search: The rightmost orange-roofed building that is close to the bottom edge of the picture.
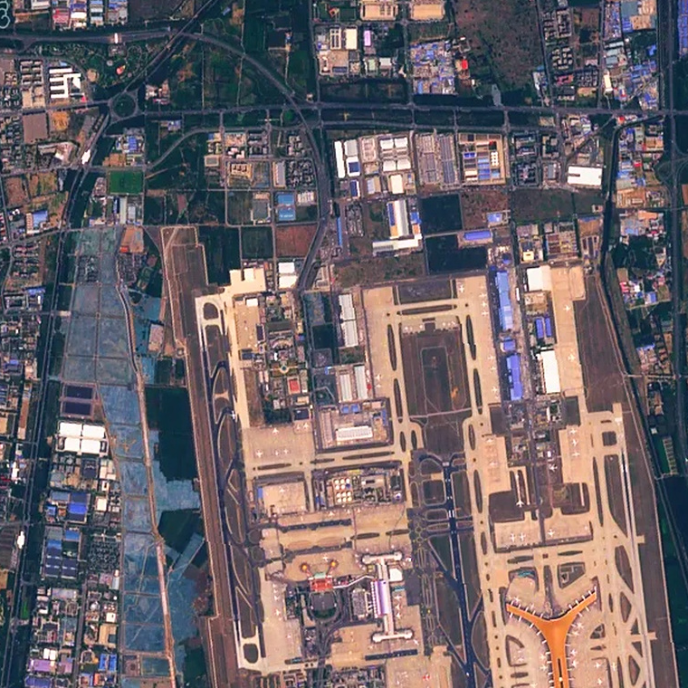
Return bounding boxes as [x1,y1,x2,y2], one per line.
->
[507,586,597,688]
